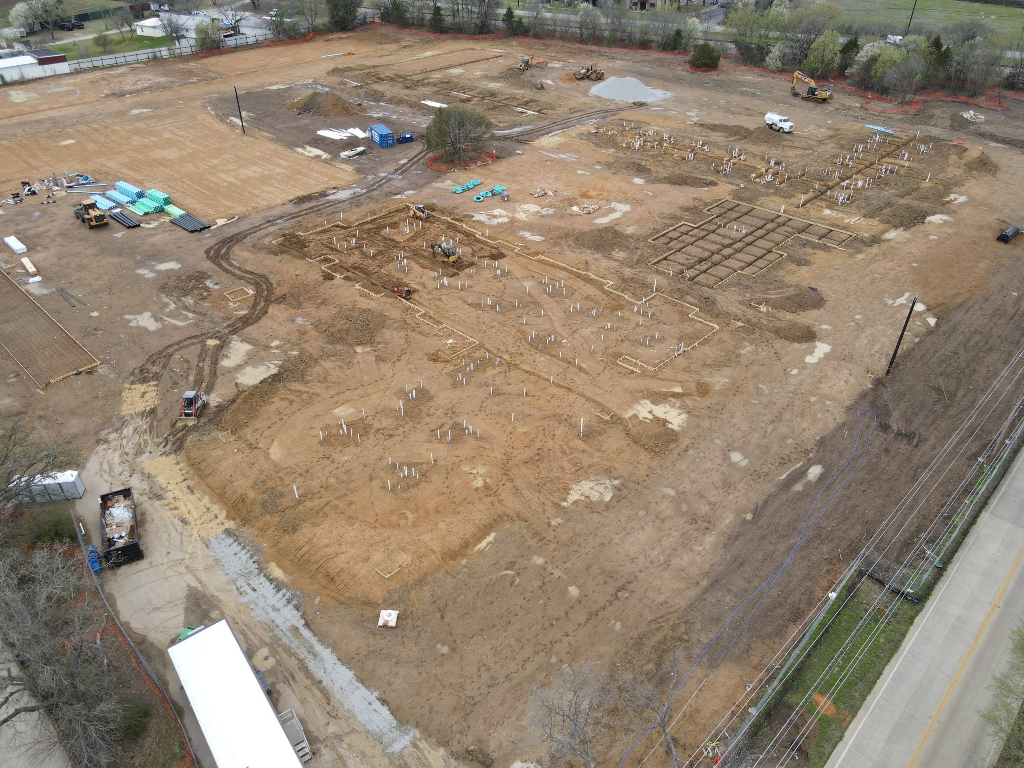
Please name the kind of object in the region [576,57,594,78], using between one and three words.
work vehicle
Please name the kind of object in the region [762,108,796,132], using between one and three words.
truck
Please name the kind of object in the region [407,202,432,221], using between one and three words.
work vehicle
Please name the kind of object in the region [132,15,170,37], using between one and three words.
house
